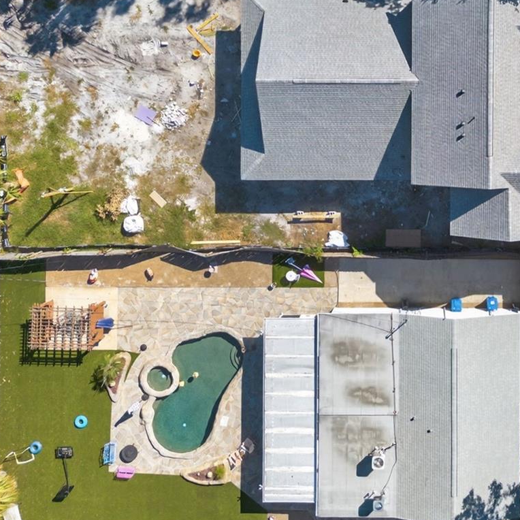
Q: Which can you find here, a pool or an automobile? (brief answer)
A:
pool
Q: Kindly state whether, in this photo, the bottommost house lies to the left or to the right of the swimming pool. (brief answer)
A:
to the right of it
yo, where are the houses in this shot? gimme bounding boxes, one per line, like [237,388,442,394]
[264,306,520,520]
[239,0,520,241]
